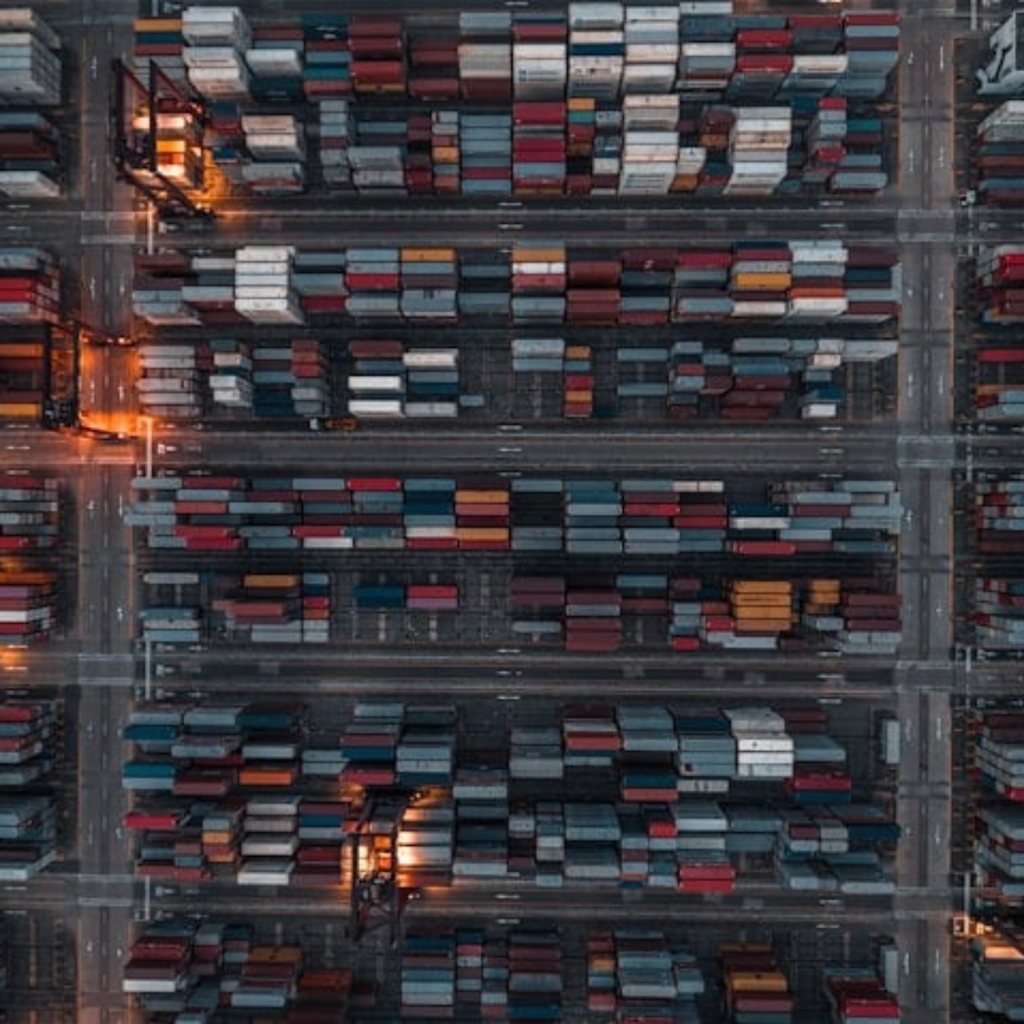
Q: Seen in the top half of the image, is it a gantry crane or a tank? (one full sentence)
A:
What appears in the top half of the image is a gantry crane.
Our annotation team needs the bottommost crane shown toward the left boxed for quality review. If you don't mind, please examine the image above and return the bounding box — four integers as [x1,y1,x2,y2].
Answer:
[346,782,418,937]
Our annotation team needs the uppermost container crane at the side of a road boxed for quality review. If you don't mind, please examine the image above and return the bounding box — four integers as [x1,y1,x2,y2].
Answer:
[113,53,205,213]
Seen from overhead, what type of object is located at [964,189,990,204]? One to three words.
vehicle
